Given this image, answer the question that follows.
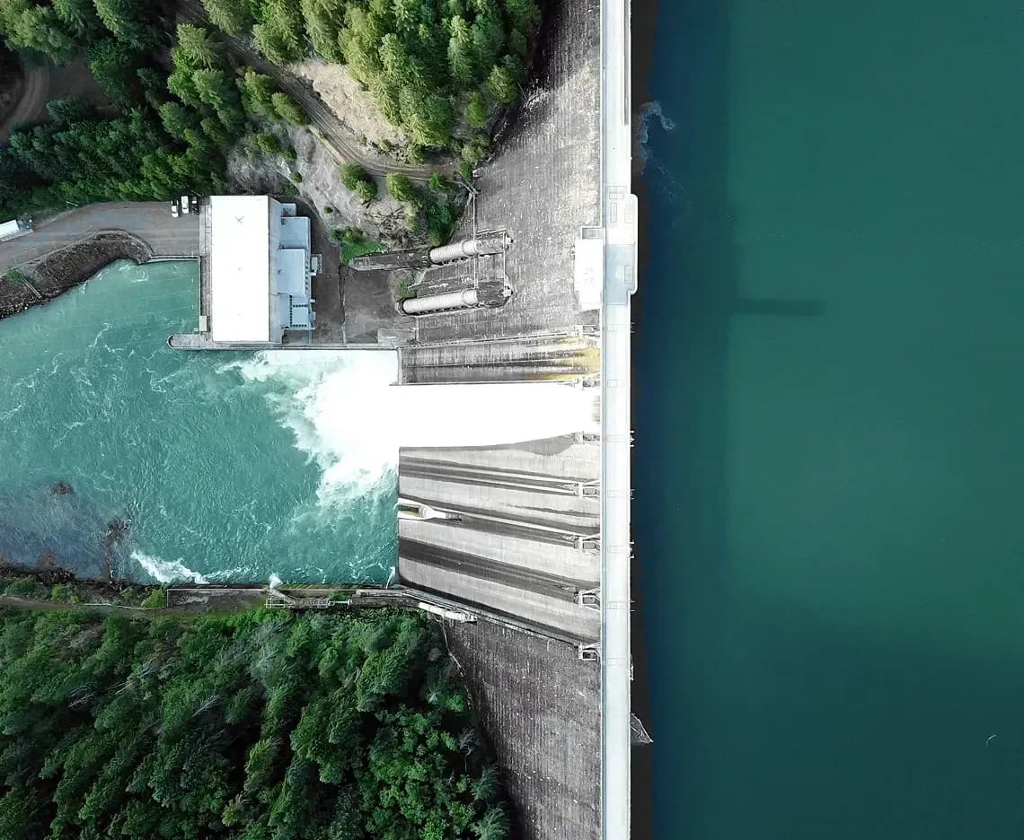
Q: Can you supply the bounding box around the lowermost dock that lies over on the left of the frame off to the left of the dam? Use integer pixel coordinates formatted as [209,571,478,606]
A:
[171,334,221,351]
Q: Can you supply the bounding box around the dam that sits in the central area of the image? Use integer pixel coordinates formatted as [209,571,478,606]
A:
[384,0,637,840]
